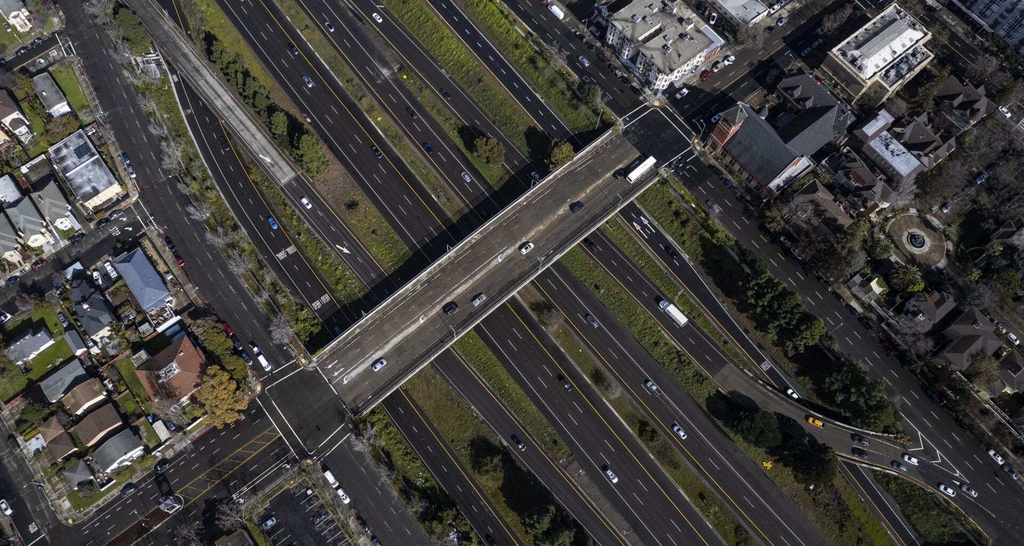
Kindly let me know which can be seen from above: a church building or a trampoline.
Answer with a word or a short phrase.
church building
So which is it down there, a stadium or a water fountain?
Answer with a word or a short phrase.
water fountain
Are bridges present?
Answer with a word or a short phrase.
Yes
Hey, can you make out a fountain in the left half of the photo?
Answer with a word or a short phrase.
No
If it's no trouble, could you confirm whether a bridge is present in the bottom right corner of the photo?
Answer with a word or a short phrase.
Yes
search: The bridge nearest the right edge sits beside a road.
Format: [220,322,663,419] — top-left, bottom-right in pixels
[714,361,896,473]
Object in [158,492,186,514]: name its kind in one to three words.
gazebo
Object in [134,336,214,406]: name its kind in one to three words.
house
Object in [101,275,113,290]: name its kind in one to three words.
vehicle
